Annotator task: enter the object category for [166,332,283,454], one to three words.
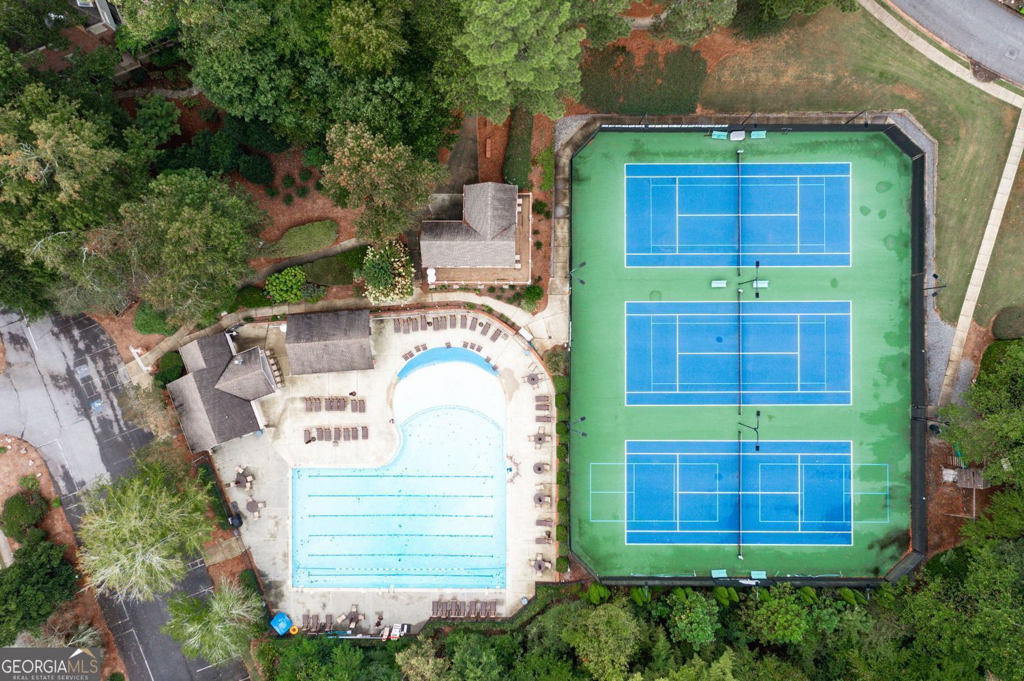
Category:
building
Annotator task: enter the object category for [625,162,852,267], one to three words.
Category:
tennis court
